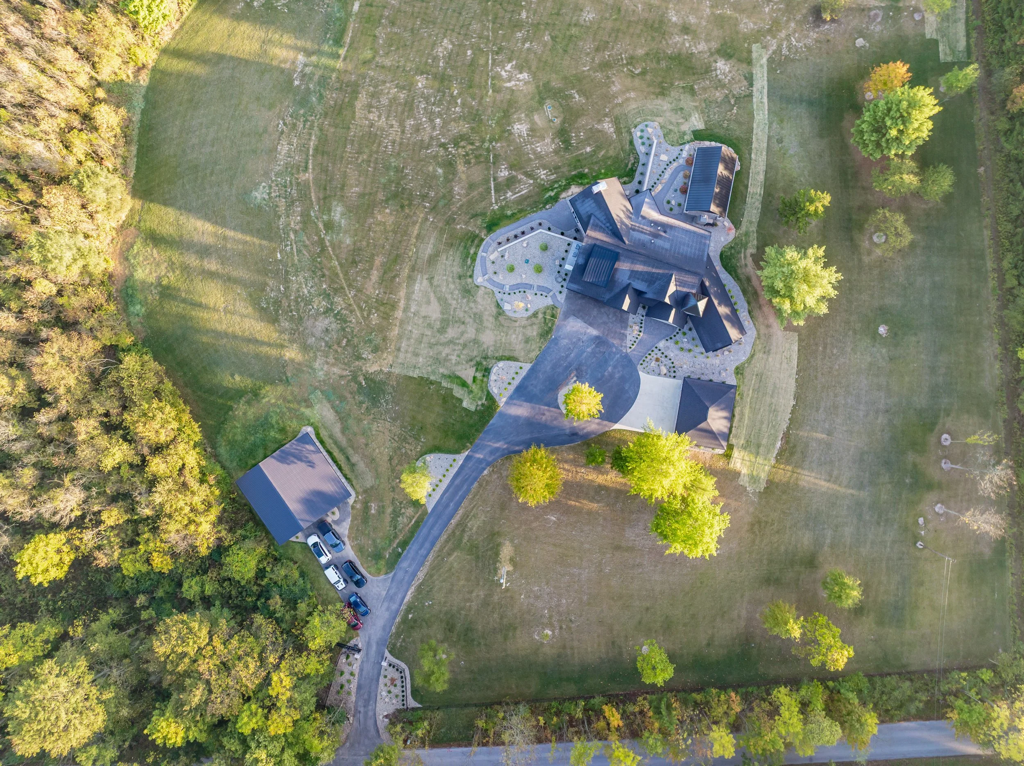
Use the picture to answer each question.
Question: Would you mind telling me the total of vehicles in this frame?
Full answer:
The number of vehicles here is 6.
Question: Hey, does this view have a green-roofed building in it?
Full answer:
No, I can see no green-roofed building in this picture.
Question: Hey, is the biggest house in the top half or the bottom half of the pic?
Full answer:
The biggest house is in the top half of the image.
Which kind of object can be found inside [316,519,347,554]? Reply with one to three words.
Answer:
truck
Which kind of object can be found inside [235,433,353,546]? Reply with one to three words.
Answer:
barn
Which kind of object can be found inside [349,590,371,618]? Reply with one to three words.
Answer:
car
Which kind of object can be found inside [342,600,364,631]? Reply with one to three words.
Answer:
car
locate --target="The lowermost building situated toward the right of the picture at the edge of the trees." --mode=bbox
[675,377,737,450]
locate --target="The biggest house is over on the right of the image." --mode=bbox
[565,176,747,353]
